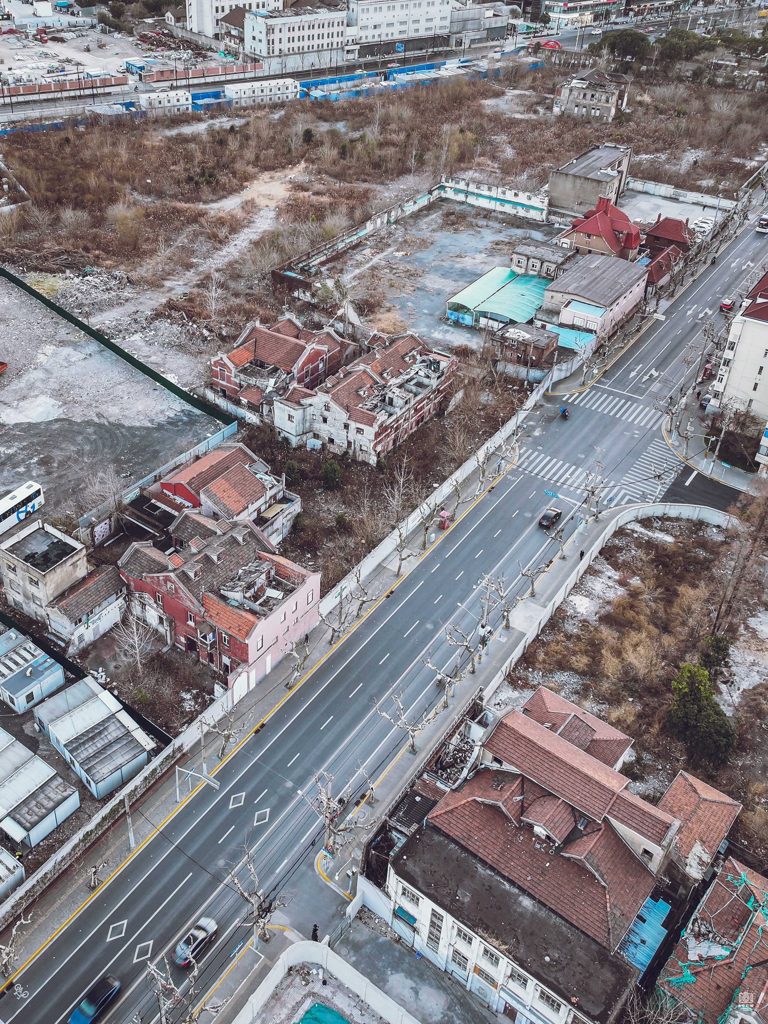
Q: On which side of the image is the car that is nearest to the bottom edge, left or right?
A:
left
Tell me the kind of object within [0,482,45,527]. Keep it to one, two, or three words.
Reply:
bus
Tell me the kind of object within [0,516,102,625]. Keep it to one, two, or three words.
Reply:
house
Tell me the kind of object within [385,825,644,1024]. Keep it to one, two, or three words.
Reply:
building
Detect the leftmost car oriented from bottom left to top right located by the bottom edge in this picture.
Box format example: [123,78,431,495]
[69,973,118,1024]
